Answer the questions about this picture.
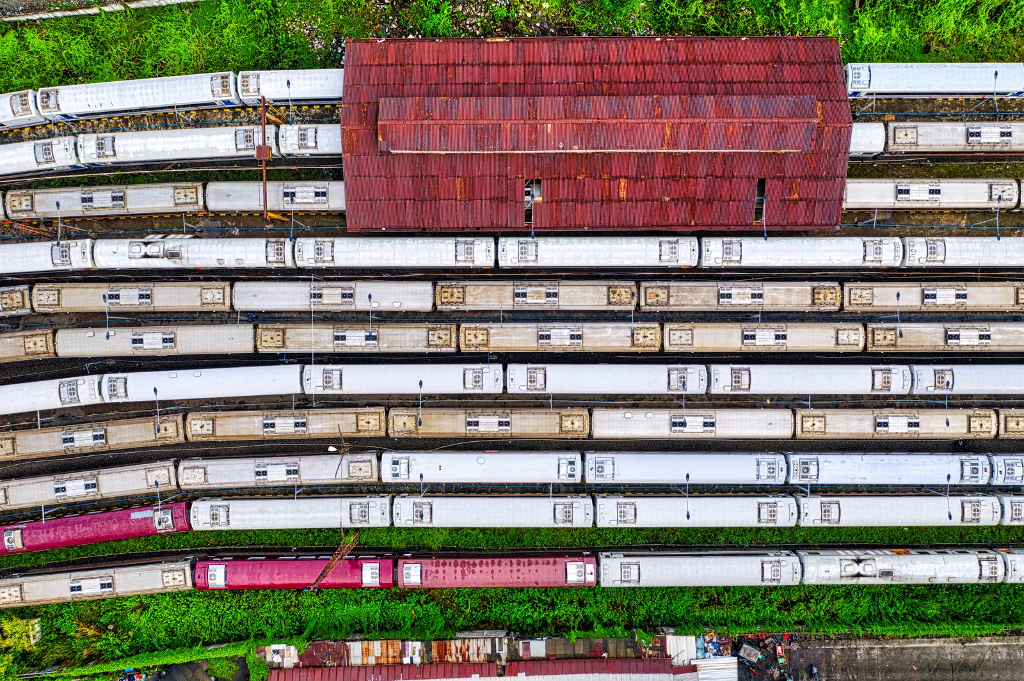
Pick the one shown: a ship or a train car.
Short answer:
train car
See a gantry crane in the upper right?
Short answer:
No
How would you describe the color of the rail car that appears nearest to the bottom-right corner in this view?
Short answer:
white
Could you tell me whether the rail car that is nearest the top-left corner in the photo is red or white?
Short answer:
white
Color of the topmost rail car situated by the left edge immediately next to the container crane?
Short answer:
white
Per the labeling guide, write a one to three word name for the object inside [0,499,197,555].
rail car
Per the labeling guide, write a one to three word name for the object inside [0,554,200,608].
rail car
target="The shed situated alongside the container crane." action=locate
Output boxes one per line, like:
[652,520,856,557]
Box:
[341,37,850,232]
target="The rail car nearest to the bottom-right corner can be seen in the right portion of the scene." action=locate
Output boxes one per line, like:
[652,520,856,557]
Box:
[991,549,1024,584]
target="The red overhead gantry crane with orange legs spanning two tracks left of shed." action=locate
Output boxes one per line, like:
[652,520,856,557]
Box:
[255,97,290,226]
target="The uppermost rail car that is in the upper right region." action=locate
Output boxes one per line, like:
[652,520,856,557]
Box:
[841,62,1024,100]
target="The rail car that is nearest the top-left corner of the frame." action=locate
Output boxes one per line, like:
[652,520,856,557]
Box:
[0,89,51,133]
